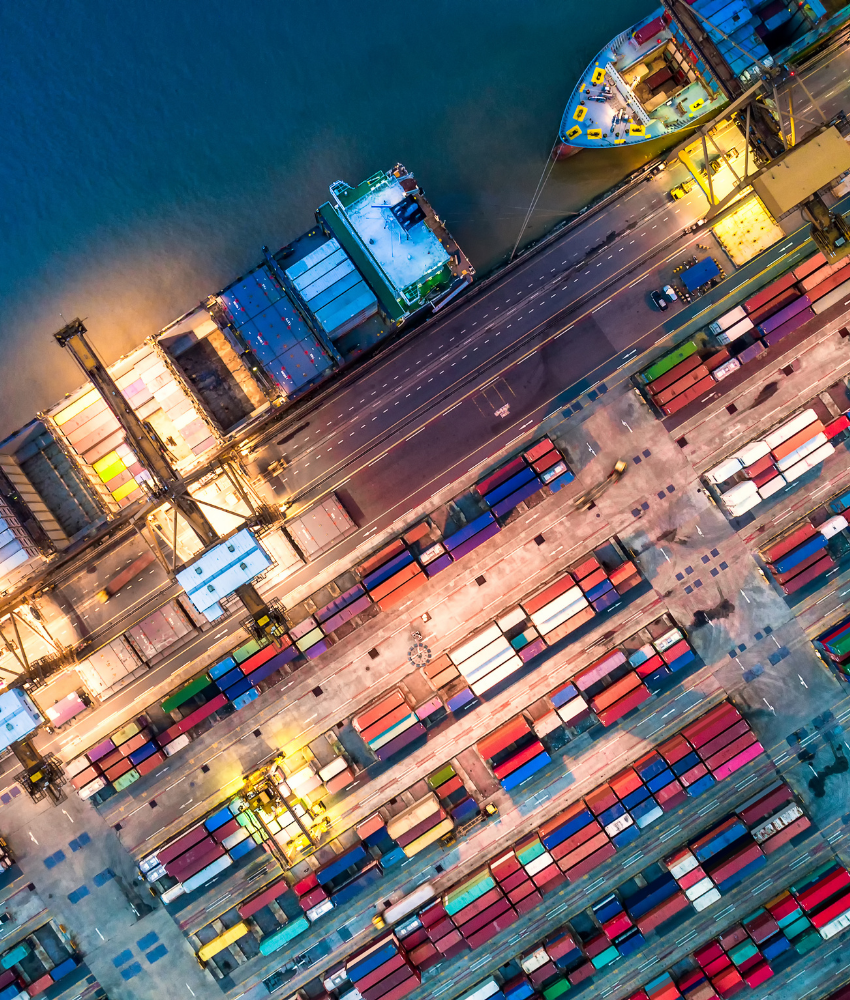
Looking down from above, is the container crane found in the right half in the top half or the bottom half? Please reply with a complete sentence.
The top half of the photo is where the container crane found in the right half is.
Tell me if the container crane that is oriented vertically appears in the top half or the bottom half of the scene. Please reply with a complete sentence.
Seen from above, the container crane that is oriented vertically lies in the bottom half of the view.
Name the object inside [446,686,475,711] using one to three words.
shipping container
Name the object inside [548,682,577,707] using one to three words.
shipping container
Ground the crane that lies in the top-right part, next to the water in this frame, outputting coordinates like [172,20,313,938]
[645,0,850,266]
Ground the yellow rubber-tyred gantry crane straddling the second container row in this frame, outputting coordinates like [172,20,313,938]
[242,753,329,870]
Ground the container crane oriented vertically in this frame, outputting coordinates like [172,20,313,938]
[0,569,105,810]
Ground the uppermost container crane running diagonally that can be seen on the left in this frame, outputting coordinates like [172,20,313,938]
[47,320,296,658]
